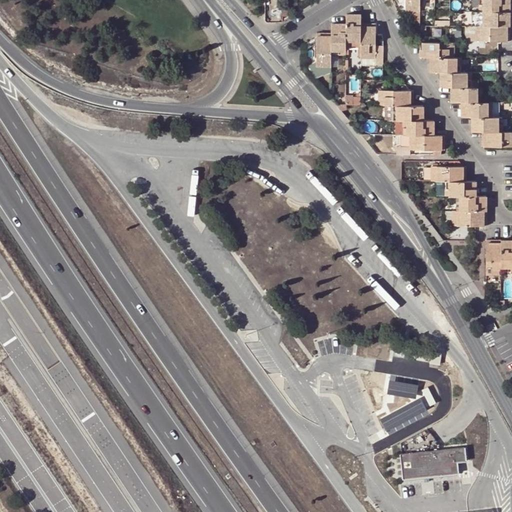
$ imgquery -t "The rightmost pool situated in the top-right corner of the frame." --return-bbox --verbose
[480,60,498,73]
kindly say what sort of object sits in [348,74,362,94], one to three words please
swimming pool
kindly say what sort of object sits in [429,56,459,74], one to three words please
house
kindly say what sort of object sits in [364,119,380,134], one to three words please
swimming pool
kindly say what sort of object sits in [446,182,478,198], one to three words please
house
